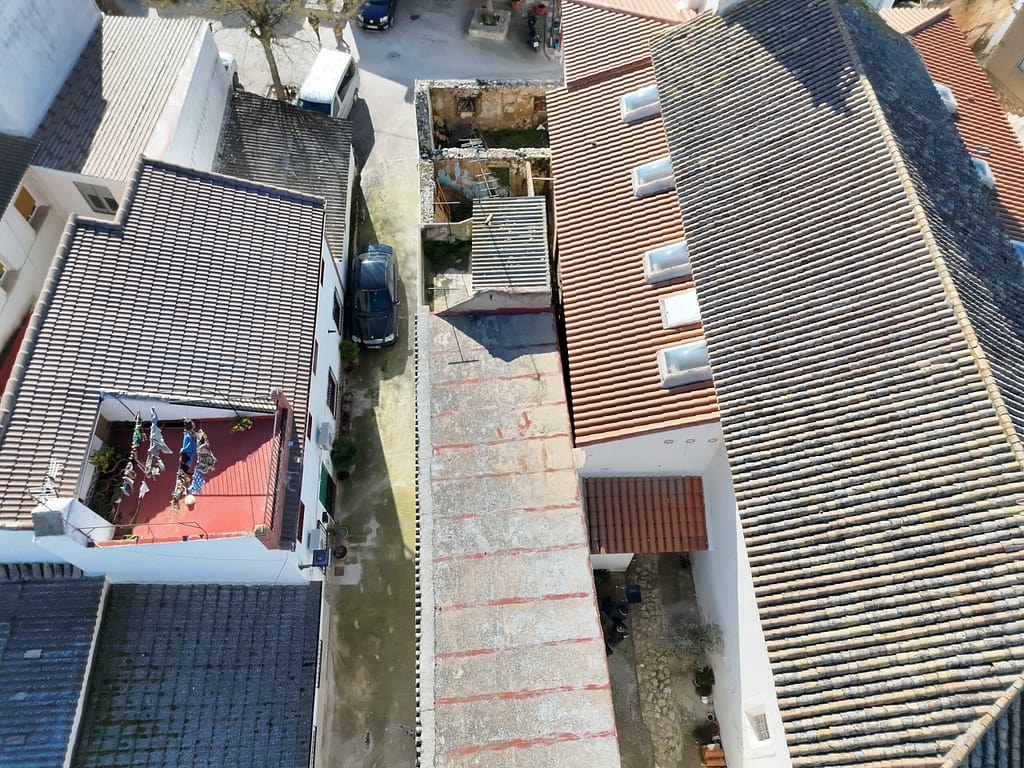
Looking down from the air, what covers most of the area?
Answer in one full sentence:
What you mostly see from above here is buildings.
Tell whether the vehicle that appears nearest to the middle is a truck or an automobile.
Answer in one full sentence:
Specifically, the vehicle that appears nearest to the middle is an automobile.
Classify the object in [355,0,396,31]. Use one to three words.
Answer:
car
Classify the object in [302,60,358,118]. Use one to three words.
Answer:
van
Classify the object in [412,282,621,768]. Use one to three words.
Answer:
building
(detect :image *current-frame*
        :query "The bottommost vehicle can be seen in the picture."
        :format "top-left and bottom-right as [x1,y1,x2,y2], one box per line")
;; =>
[346,249,401,352]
